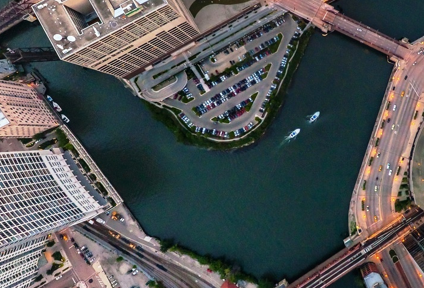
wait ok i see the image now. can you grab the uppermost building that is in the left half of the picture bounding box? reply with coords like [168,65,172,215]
[31,0,200,76]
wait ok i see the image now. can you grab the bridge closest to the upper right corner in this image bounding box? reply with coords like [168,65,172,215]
[315,0,415,66]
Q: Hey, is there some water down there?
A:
Yes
